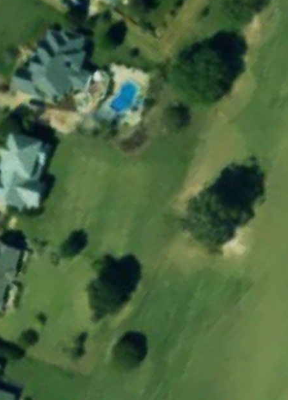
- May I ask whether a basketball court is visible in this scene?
No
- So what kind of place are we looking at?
golf course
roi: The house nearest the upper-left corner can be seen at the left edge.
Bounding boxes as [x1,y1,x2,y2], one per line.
[7,17,95,105]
